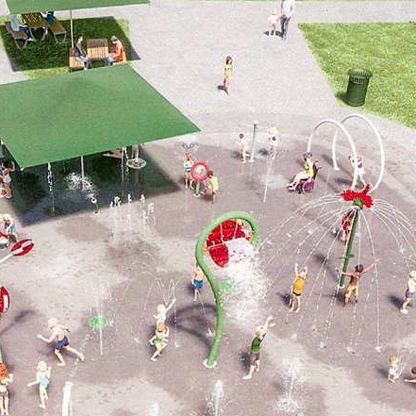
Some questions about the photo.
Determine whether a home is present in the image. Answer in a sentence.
No, there is no home in the image.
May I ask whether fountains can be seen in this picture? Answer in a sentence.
Yes, this view includes a fountain.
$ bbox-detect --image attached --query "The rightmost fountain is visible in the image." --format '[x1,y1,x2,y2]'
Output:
[334,174,381,290]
